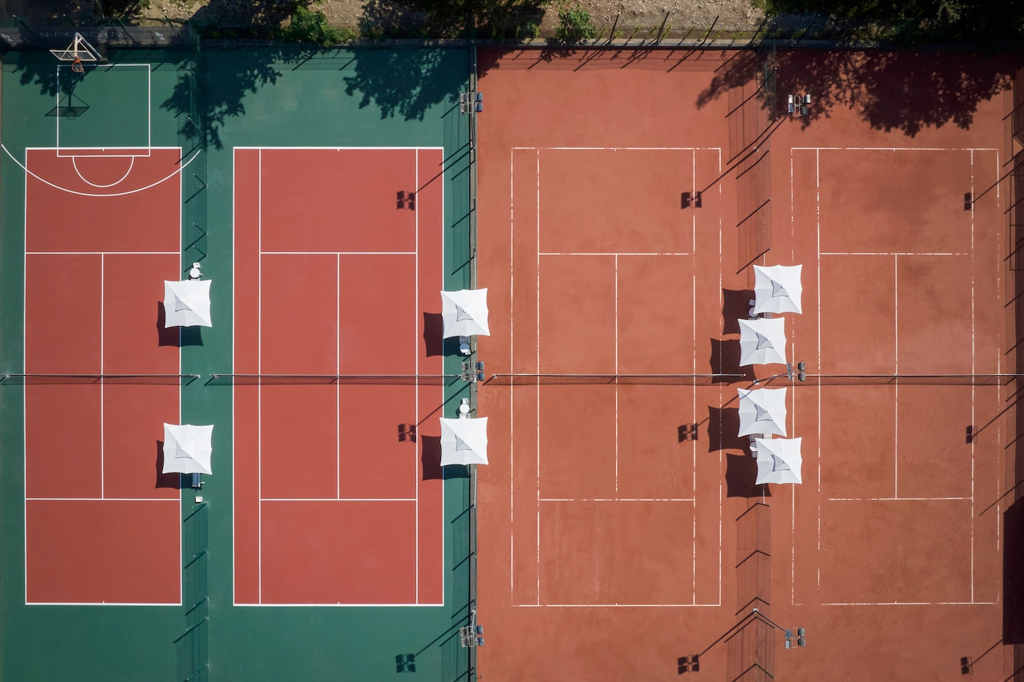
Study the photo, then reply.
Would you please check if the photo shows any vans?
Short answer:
No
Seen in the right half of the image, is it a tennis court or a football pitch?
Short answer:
tennis court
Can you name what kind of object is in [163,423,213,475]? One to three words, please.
umbrella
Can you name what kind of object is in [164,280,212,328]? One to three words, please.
umbrella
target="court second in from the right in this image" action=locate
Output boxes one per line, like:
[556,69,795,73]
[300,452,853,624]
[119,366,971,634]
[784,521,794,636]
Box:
[477,46,757,682]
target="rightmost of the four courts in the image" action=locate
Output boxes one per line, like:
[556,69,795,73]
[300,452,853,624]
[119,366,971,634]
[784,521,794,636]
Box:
[757,46,1024,682]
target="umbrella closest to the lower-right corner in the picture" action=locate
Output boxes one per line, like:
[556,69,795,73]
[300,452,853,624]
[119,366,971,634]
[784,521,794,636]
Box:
[755,437,802,484]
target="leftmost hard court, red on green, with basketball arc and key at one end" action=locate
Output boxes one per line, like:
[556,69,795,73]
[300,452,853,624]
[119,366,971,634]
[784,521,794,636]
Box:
[2,46,206,682]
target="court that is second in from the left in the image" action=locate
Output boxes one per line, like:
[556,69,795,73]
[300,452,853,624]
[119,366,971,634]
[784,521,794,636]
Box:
[206,46,470,682]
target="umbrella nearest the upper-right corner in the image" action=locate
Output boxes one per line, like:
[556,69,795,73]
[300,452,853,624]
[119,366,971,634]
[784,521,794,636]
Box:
[753,264,802,314]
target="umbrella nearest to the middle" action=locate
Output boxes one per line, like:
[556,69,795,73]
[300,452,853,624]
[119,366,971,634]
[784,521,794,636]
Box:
[441,288,490,338]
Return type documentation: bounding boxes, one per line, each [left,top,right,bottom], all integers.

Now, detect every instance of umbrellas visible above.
[755,437,802,484]
[440,417,488,466]
[441,288,490,338]
[738,317,786,366]
[163,423,213,475]
[738,388,787,437]
[164,280,212,328]
[753,264,802,314]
